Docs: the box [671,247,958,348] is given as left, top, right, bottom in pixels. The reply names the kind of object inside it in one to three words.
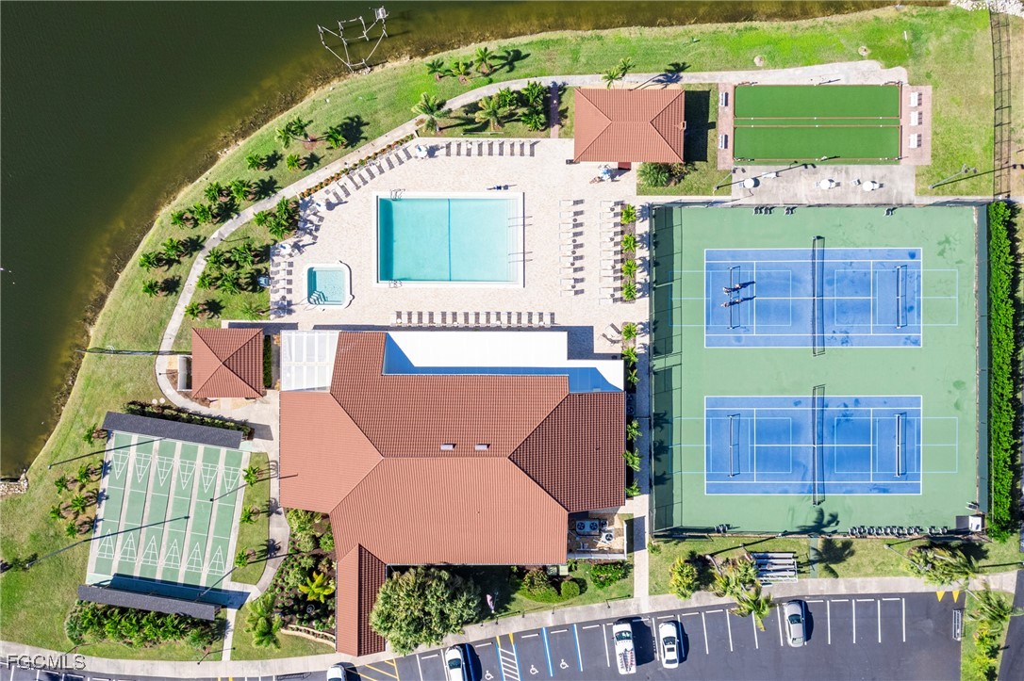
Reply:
tennis court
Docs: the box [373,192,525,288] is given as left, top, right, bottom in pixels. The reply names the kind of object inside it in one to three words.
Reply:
swimming pool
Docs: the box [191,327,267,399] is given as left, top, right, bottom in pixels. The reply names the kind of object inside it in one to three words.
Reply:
building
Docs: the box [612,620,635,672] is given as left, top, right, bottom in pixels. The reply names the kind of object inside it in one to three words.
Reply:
car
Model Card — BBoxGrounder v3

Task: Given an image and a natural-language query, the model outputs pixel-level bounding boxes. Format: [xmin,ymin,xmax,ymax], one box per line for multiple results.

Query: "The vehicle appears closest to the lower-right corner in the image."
[782,599,806,648]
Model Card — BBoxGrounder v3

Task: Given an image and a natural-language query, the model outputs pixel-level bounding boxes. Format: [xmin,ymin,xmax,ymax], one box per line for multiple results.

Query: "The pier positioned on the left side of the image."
[318,6,389,77]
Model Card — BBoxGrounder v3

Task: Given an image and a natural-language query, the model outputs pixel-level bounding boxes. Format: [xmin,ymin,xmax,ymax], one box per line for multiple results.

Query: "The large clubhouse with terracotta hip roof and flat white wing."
[279,330,626,657]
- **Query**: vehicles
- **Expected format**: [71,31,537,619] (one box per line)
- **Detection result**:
[329,664,348,681]
[782,599,806,648]
[612,620,635,672]
[446,646,468,681]
[658,619,679,666]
